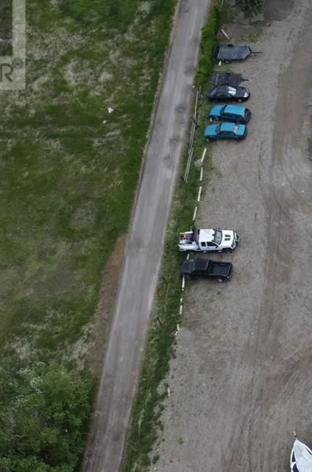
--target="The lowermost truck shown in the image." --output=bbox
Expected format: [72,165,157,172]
[178,258,237,283]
